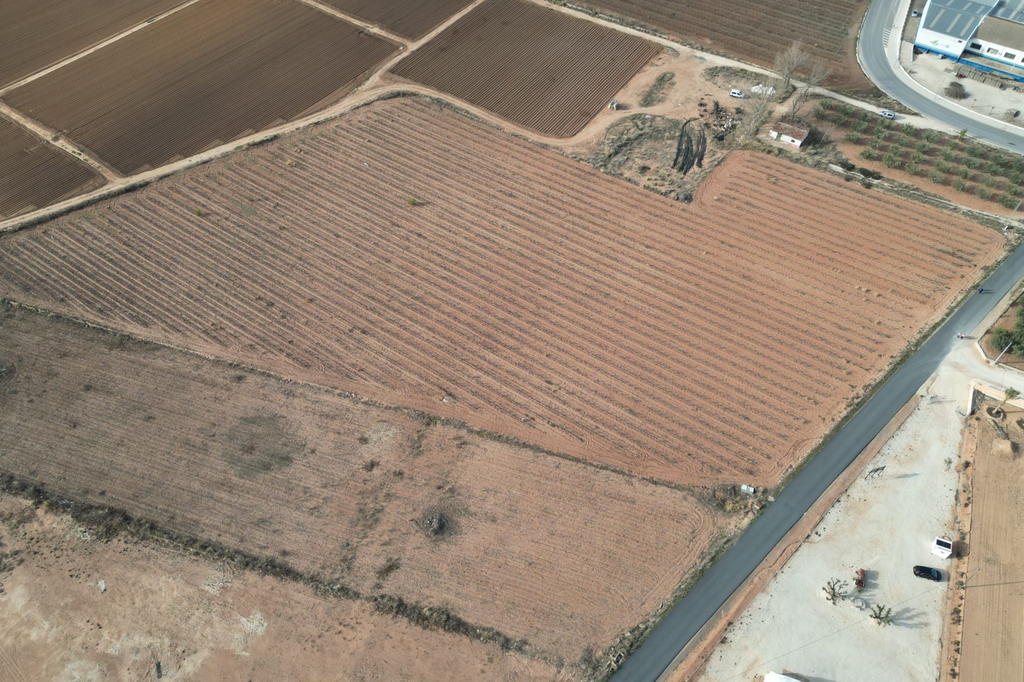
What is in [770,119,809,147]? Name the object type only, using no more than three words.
house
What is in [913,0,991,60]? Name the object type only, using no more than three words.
building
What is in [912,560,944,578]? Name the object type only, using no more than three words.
car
